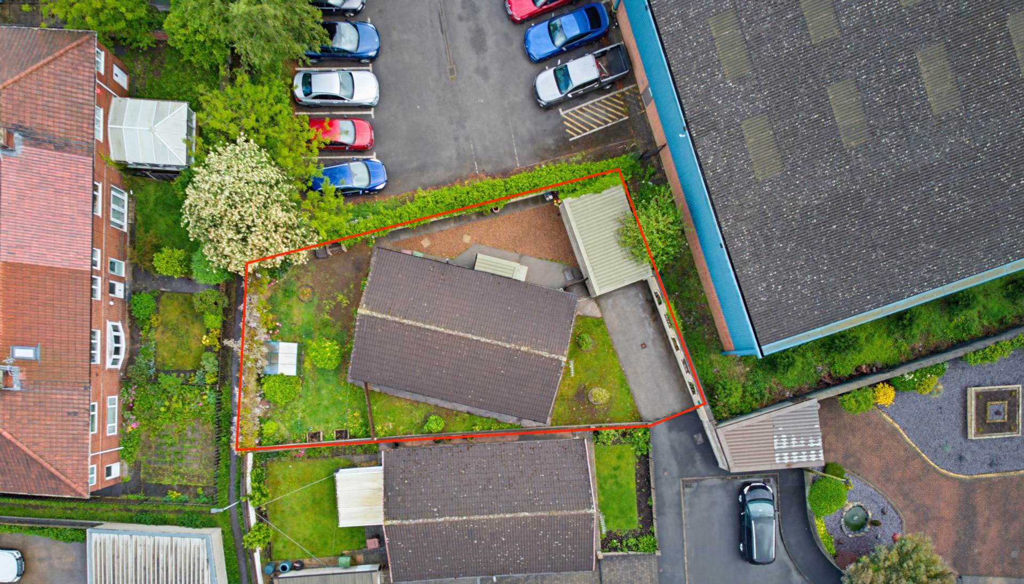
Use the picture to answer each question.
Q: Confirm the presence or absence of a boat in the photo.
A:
No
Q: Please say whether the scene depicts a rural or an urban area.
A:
urban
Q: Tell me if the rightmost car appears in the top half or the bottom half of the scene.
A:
bottom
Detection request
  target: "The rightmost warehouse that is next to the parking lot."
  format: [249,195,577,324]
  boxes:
[613,0,1024,363]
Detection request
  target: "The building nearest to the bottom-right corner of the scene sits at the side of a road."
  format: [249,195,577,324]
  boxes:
[707,399,824,472]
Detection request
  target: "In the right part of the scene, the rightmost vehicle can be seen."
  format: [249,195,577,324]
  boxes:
[737,481,781,566]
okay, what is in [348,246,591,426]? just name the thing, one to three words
house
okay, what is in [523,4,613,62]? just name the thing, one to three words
car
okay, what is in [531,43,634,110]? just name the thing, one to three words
truck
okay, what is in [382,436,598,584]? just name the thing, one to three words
house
